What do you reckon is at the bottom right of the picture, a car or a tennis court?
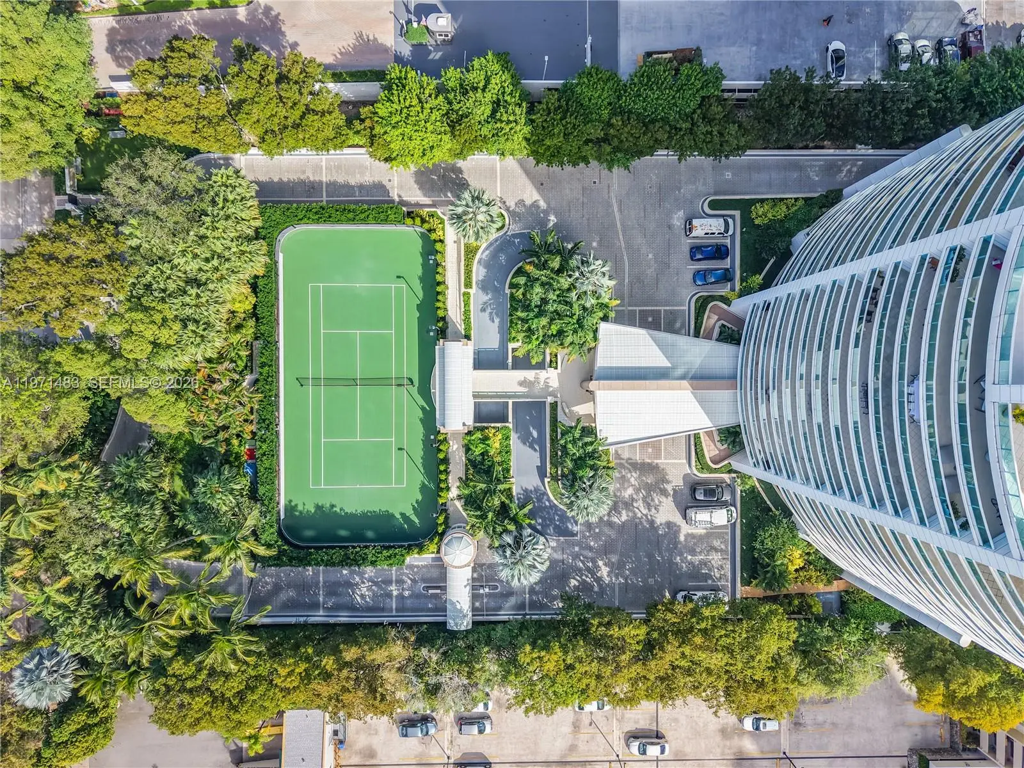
car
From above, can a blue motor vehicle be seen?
Yes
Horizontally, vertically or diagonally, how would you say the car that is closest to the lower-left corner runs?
horizontally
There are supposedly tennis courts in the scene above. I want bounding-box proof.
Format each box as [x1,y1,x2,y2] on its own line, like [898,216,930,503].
[276,223,439,550]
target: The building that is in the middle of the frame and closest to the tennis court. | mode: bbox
[431,337,474,439]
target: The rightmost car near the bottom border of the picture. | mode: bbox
[739,712,781,735]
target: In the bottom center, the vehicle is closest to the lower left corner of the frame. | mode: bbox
[398,718,439,739]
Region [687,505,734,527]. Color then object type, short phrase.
white vehicle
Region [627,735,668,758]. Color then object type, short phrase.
white car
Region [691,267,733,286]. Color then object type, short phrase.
blue car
